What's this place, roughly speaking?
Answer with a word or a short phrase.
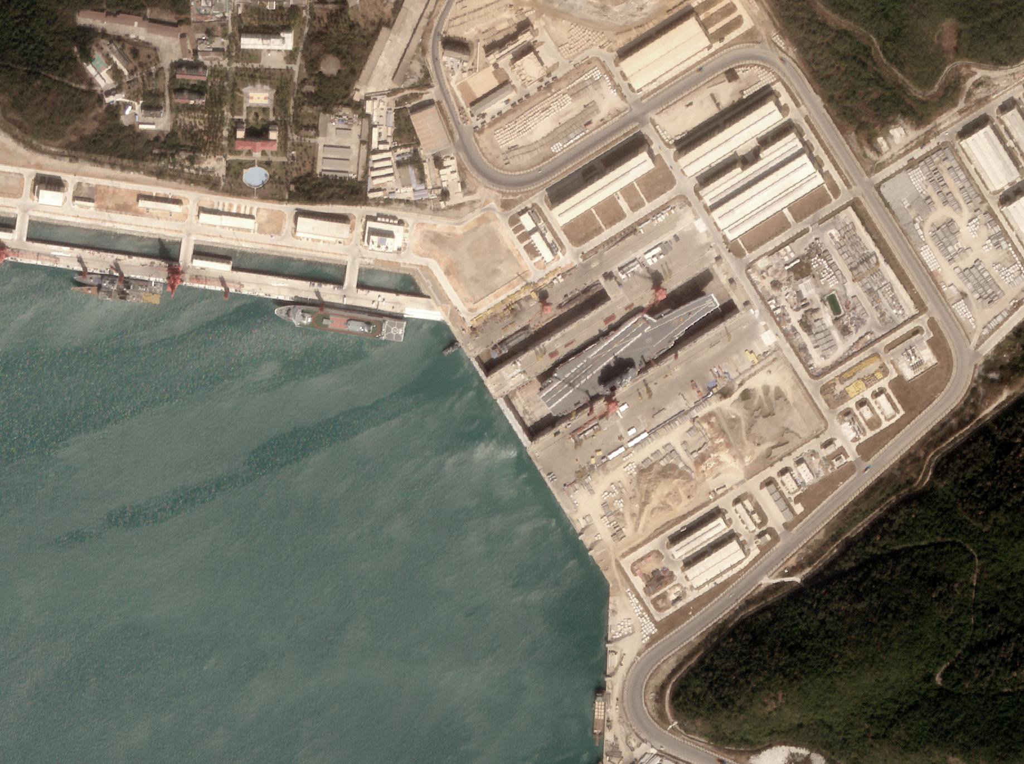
port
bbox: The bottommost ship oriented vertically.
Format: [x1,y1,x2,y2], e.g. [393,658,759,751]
[593,691,605,746]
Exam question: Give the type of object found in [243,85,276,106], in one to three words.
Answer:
sports court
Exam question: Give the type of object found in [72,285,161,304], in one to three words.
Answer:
ship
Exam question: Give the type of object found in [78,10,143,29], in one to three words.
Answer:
shed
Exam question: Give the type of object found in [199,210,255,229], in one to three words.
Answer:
building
